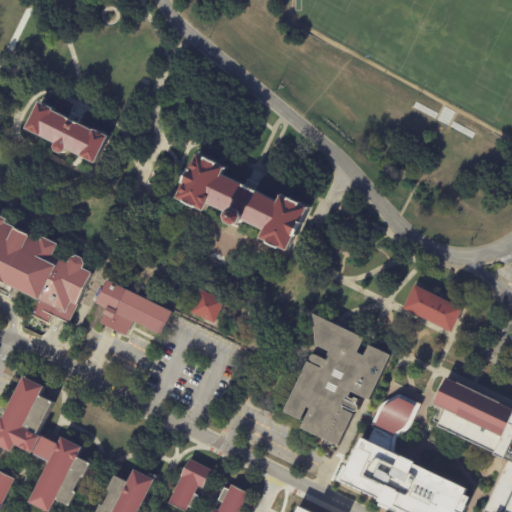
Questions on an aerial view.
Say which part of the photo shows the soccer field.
top right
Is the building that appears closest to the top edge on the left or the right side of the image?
left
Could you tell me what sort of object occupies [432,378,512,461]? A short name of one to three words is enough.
building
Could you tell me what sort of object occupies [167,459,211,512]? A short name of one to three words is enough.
house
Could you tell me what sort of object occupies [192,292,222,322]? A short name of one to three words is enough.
building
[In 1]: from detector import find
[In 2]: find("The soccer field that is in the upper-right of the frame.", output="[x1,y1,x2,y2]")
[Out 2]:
[298,0,512,128]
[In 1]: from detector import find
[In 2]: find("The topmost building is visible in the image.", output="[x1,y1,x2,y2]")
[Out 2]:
[20,100,106,163]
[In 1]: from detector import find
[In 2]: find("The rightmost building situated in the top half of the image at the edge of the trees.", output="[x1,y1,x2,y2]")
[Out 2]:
[178,154,307,250]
